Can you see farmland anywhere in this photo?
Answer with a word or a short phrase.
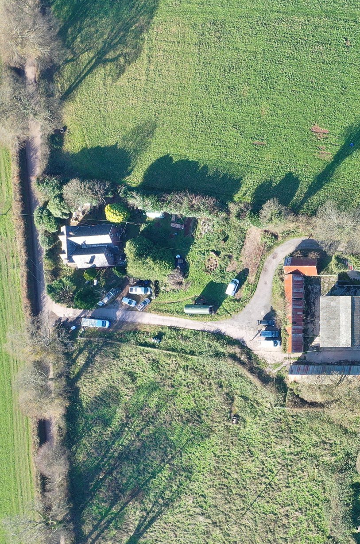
Yes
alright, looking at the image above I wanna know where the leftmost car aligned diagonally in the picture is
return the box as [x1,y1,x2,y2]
[101,288,123,305]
